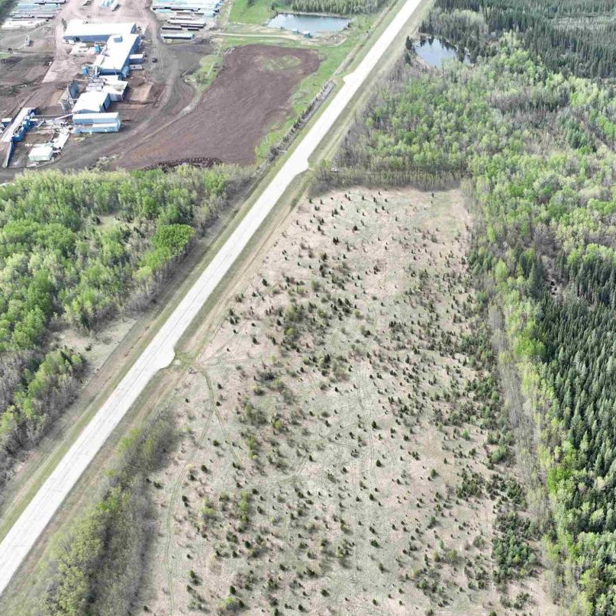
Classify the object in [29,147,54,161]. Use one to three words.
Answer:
building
